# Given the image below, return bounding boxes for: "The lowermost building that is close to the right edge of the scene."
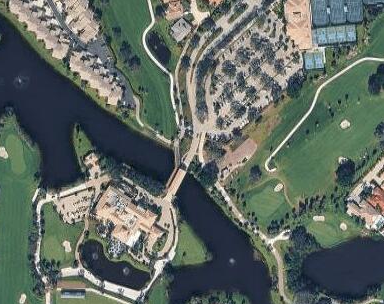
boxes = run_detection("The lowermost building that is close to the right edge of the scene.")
[348,201,383,229]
